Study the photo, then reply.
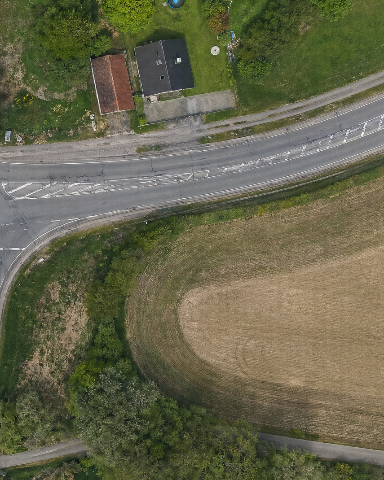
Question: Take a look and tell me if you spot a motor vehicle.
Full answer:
No, the frame has no motor vehicle in it.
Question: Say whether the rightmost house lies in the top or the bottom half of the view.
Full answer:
Seen from above, the rightmost house lies in the top half of the view.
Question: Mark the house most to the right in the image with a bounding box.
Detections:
[134,39,195,98]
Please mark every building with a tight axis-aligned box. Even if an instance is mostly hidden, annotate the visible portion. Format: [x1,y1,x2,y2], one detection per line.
[134,39,195,98]
[91,54,135,116]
